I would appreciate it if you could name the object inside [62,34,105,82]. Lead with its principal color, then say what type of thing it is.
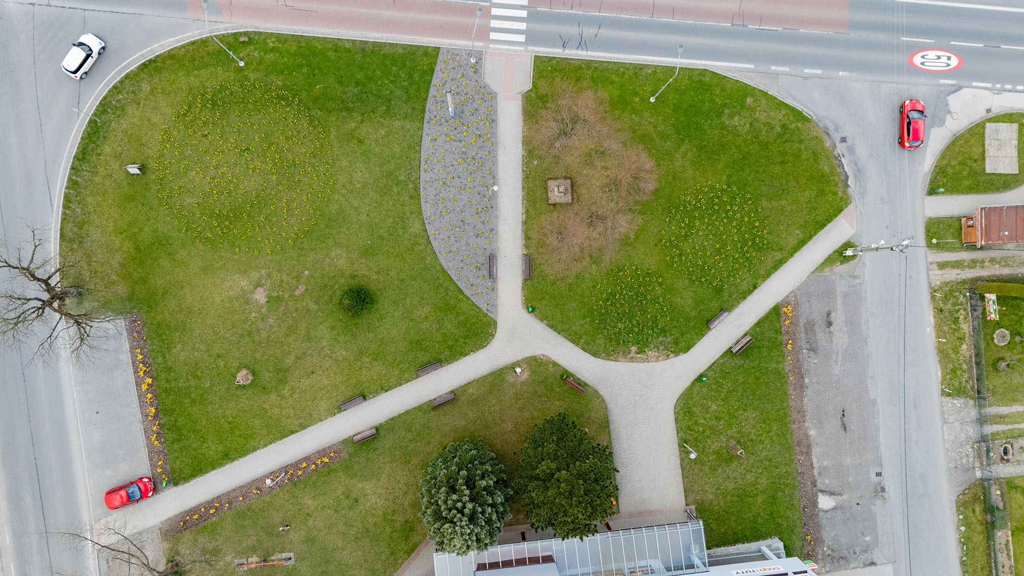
white car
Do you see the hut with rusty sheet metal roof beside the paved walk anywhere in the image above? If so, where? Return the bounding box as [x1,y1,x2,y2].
[963,204,1024,248]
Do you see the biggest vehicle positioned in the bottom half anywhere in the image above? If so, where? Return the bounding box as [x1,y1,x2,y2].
[102,475,159,511]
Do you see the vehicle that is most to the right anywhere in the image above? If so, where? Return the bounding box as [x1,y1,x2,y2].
[897,100,928,151]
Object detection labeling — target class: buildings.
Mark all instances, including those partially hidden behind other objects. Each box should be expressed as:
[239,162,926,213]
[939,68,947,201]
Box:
[963,204,1024,248]
[433,509,818,576]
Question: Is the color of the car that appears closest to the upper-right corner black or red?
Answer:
red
